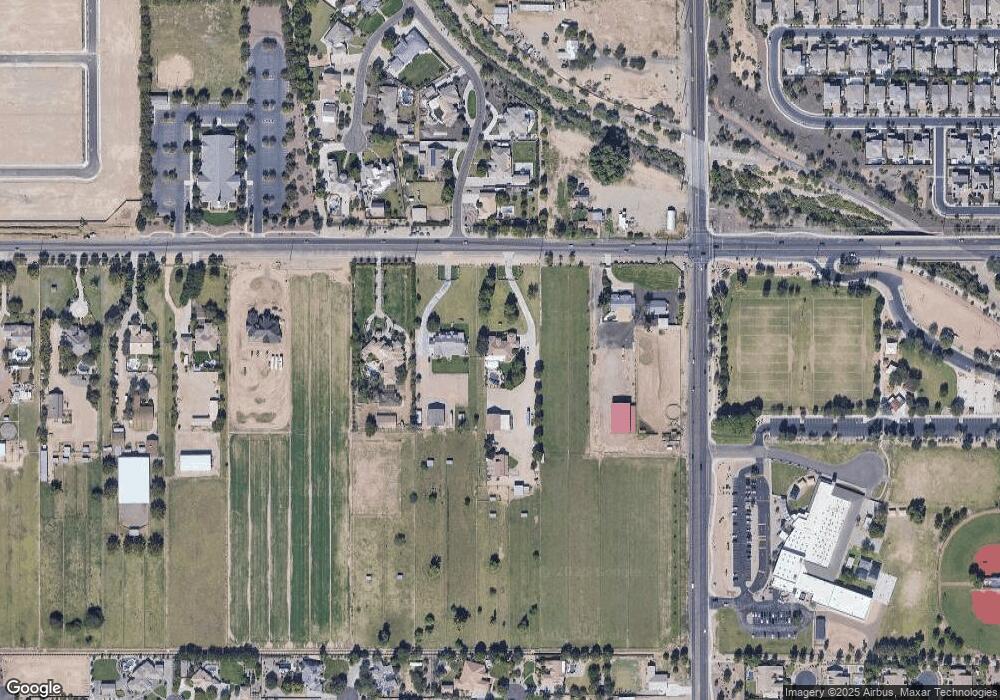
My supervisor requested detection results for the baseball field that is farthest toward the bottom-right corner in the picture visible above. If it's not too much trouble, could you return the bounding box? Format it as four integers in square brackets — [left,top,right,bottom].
[941,586,1000,656]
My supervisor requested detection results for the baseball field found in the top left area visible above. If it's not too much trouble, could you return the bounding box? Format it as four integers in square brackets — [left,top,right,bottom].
[158,55,193,88]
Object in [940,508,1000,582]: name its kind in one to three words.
baseball field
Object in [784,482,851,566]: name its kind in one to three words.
building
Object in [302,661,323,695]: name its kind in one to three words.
house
